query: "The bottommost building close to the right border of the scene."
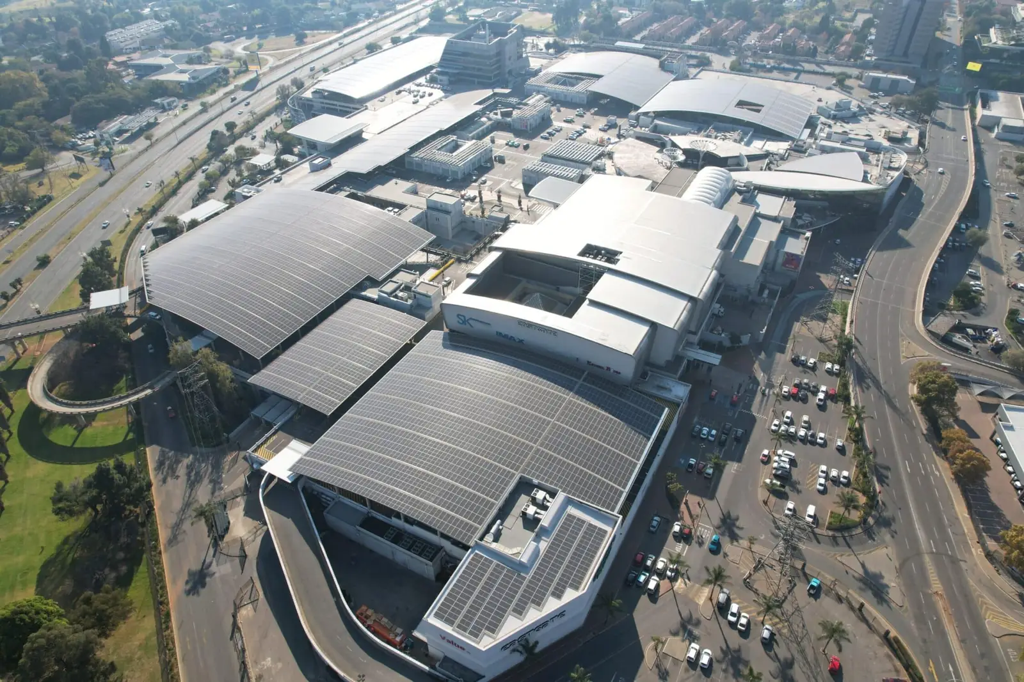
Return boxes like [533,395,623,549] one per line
[978,404,1024,519]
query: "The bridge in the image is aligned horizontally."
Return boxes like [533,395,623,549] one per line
[0,296,171,361]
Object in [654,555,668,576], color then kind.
white car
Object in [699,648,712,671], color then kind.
white vehicle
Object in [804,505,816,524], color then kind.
white vehicle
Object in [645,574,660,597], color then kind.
white car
